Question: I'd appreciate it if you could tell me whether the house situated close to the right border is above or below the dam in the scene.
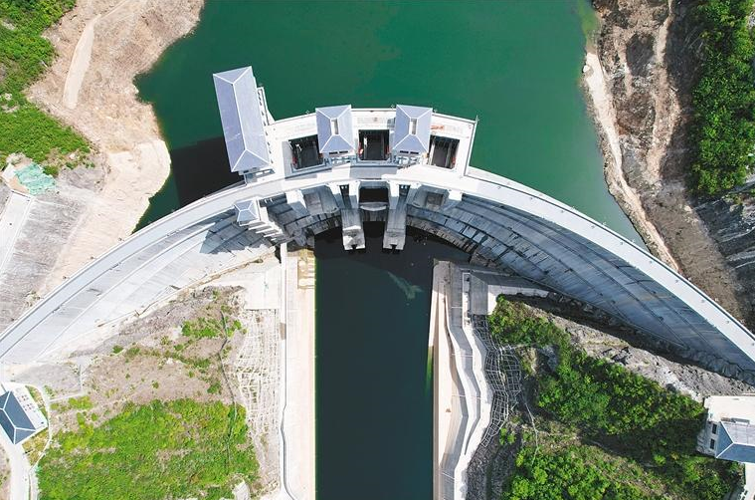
below it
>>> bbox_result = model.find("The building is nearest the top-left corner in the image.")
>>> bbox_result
[213,66,280,183]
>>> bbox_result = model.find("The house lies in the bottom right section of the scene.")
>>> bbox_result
[693,414,755,463]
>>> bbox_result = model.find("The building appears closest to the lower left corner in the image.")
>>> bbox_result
[0,391,41,445]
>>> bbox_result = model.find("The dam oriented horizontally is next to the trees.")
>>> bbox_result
[0,85,755,381]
